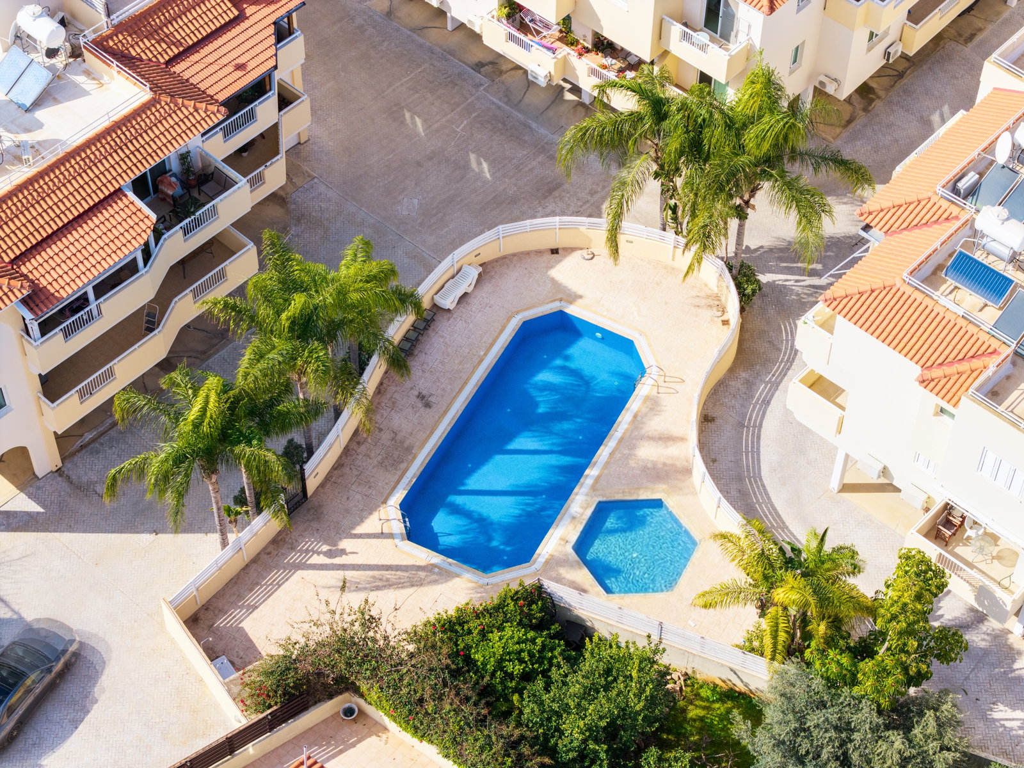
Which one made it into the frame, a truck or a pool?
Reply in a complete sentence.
The image shows a pool.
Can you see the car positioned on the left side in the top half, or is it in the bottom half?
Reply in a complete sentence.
You can find the car positioned on the left side in the bottom half.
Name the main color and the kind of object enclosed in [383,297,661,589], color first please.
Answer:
blue swimming pool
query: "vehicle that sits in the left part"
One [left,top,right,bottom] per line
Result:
[0,616,79,750]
